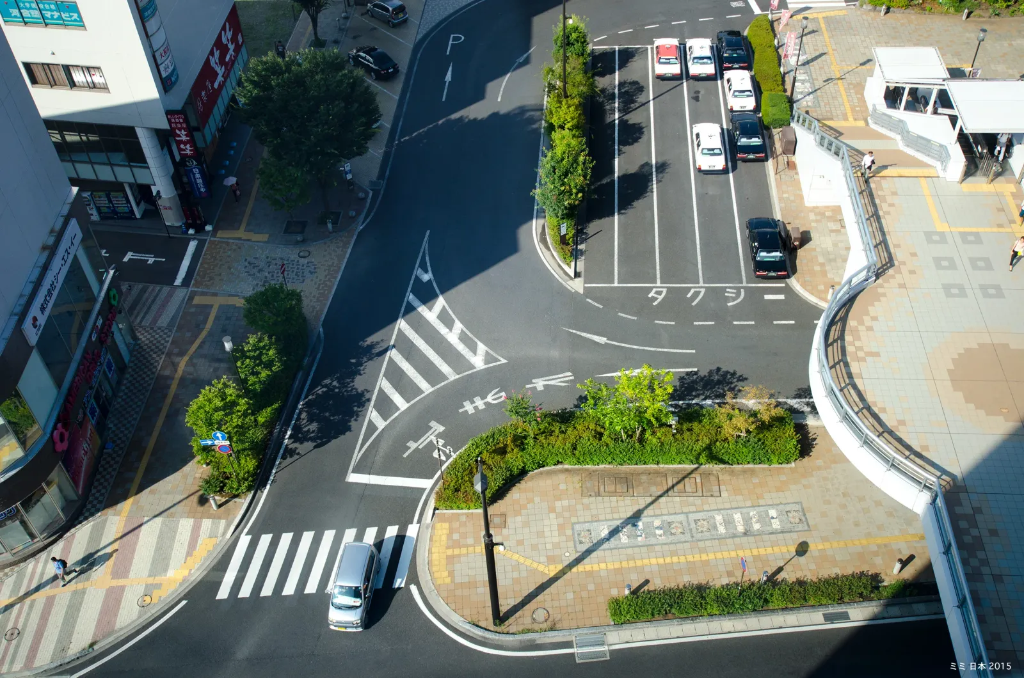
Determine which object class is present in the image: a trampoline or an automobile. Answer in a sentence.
This aerial view contains an automobile.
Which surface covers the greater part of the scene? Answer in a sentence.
The largest share of the image is taken up by paved ground.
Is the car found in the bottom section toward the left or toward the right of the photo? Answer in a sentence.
The car found in the bottom section is on the left side of the image.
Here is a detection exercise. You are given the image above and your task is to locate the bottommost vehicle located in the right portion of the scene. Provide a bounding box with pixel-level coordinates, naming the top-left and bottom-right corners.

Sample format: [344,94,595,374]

[746,211,785,276]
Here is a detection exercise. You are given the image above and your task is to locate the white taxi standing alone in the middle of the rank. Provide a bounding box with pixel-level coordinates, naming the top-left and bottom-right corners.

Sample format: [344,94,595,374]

[691,115,726,171]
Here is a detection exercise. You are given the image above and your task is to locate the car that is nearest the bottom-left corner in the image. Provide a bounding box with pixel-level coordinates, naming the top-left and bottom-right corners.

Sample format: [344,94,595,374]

[330,545,382,629]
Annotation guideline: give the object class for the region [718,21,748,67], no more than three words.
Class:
car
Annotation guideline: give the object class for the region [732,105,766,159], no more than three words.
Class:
car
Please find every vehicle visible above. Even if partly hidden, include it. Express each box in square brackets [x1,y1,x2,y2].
[732,105,766,159]
[718,21,748,67]
[725,60,756,109]
[341,42,403,80]
[359,0,405,30]
[691,115,726,171]
[746,211,785,276]
[685,31,715,77]
[652,31,680,77]
[330,545,382,629]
